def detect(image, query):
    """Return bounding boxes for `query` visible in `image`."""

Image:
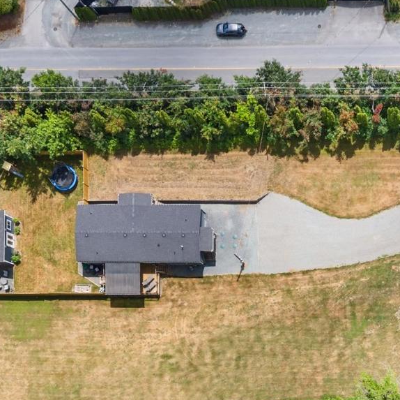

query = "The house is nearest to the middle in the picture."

[75,193,217,265]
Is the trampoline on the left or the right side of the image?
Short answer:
left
